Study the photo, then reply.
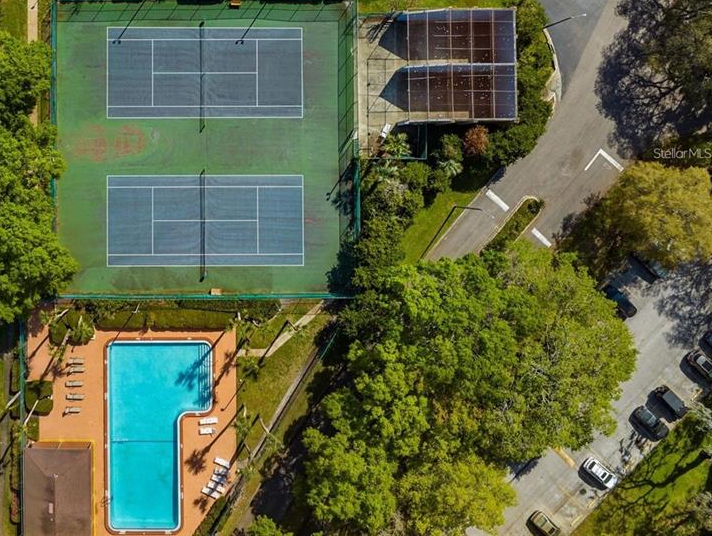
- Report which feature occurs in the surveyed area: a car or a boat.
car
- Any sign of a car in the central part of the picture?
No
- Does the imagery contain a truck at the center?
No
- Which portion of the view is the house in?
bottom left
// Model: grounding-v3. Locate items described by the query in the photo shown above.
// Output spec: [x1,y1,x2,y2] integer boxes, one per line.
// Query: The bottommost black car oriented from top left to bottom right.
[631,406,672,442]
